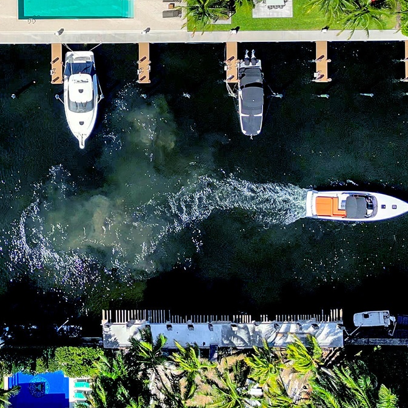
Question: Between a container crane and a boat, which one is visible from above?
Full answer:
Of the two, only a boat appears.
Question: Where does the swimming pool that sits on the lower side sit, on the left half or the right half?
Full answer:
The swimming pool that sits on the lower side appears in the left half of the scene.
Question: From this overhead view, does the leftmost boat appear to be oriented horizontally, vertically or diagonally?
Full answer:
Seen from above, the leftmost boat lies vertically.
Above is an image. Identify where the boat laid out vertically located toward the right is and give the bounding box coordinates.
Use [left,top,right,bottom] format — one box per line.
[238,48,265,139]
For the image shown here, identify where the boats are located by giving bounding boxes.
[238,48,265,139]
[352,310,400,327]
[64,51,100,149]
[303,191,408,220]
